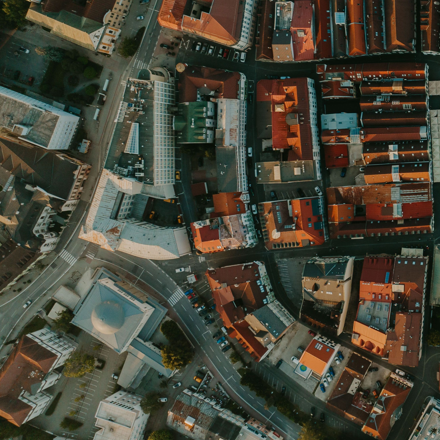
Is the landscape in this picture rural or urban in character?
urban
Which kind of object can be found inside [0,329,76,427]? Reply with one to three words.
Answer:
house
